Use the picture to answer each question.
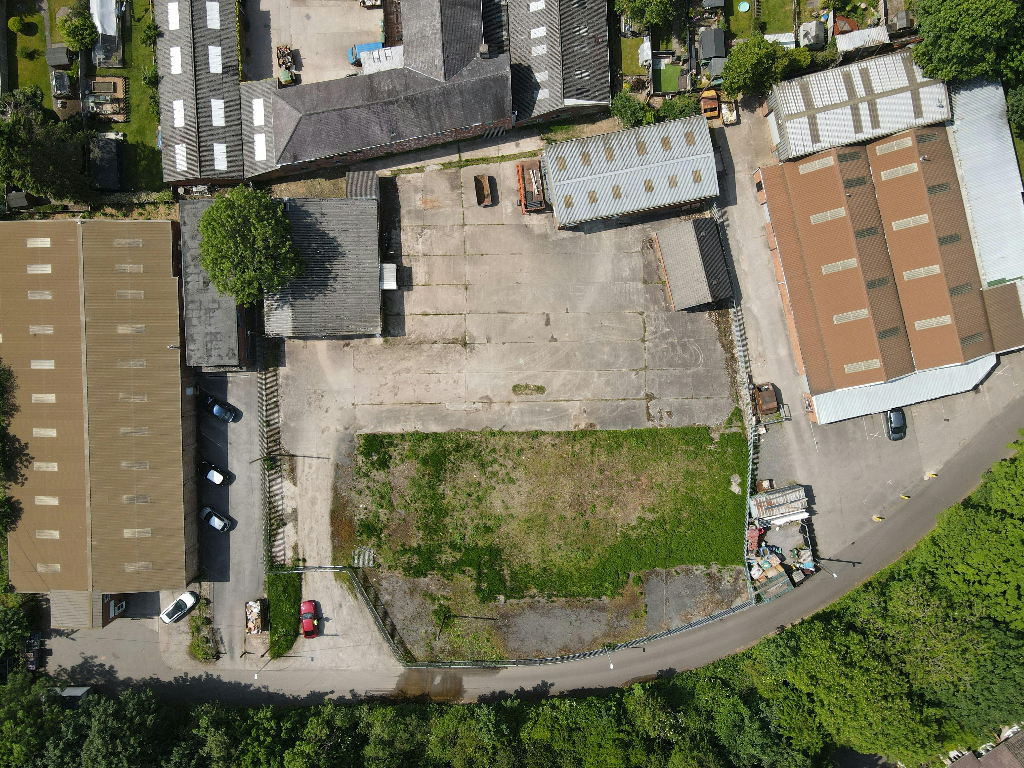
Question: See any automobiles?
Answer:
Yes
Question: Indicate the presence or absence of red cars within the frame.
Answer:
Yes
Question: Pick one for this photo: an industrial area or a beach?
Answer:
industrial area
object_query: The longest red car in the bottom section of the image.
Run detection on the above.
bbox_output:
[298,600,320,639]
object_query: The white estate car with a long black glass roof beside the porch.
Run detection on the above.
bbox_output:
[157,589,198,627]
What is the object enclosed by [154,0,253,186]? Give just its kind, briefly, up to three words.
shed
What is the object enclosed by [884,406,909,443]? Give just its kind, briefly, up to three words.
car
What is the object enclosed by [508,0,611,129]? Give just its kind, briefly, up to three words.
shed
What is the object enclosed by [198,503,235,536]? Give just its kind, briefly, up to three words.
car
